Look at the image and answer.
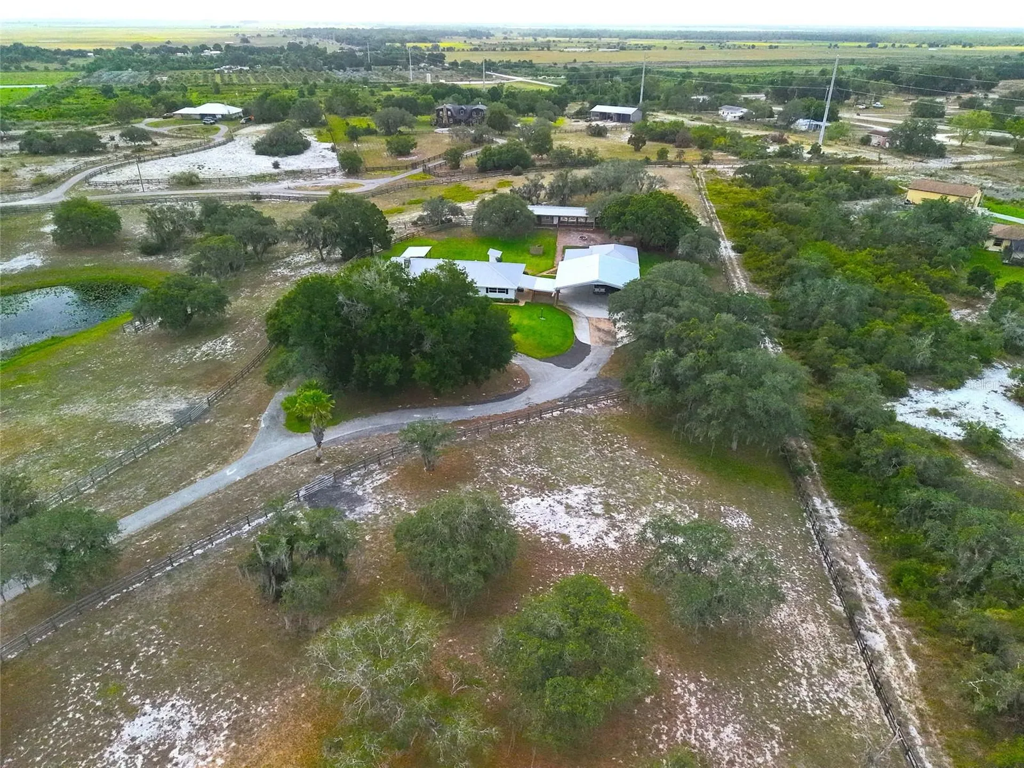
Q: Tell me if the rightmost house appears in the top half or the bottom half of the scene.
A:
top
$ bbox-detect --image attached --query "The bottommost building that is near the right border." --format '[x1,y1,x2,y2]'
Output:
[984,225,1024,256]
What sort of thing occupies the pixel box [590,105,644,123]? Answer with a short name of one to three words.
shed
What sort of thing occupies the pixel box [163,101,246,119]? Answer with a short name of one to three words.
house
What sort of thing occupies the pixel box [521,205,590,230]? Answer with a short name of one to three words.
building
